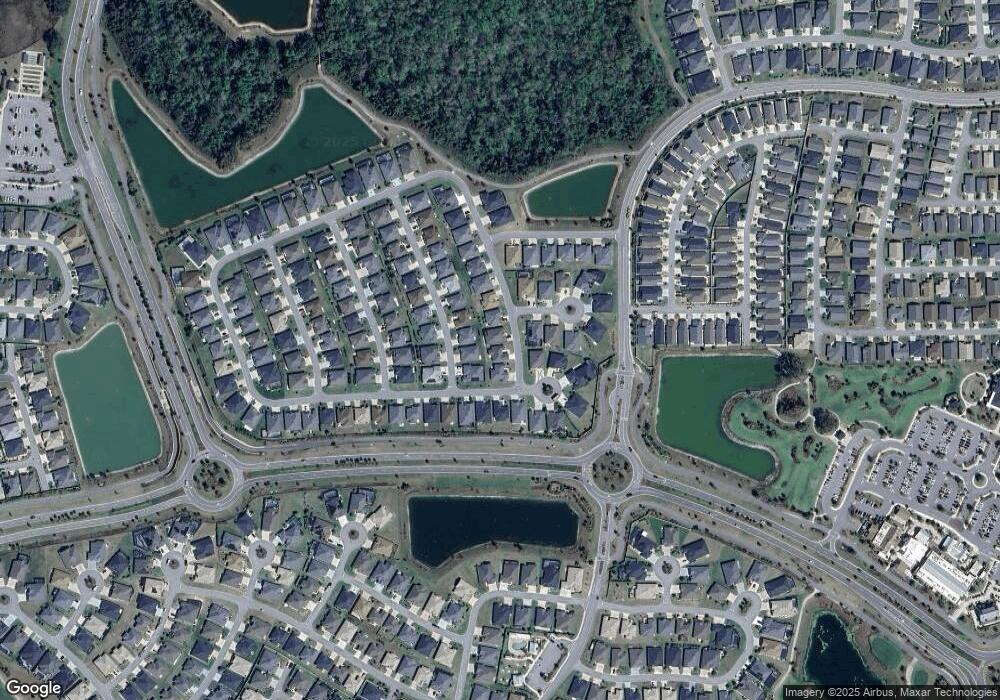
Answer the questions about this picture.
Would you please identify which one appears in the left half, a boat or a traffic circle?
traffic circle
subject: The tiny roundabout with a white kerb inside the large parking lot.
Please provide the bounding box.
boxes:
[966,466,994,494]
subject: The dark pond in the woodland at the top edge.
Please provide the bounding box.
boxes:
[213,0,312,31]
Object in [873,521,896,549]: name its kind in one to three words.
building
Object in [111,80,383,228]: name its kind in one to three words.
pond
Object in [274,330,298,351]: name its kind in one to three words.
house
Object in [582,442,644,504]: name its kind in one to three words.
roundabout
